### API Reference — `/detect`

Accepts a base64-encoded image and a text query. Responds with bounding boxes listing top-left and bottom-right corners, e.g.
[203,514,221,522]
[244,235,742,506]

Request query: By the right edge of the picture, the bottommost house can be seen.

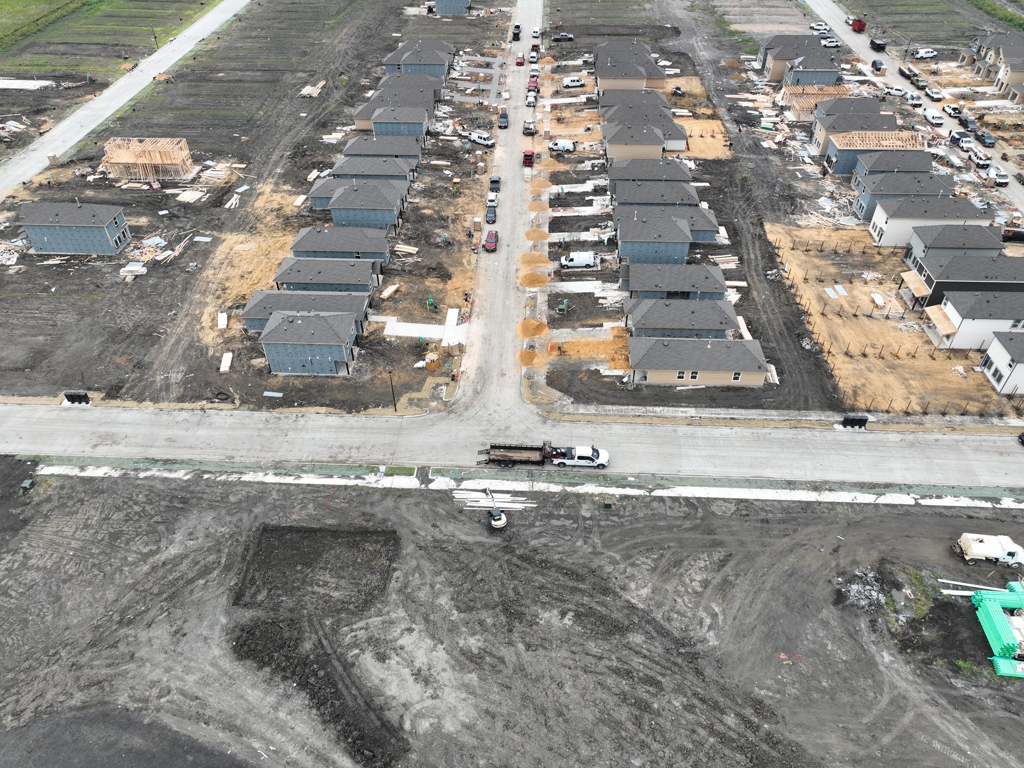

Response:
[977,331,1024,396]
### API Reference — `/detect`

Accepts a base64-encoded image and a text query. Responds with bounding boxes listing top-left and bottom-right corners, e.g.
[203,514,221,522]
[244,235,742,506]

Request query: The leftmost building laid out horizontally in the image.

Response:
[10,200,133,257]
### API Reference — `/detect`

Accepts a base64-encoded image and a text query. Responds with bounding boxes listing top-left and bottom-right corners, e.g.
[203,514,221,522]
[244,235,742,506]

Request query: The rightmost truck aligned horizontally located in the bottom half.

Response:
[941,531,1024,568]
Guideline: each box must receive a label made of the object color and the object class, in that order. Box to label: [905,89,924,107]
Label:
white vehicle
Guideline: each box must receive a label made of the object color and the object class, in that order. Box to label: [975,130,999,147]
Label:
gray vehicle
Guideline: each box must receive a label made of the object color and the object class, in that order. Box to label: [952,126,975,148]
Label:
white truck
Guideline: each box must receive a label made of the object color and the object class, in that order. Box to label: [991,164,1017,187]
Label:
white vehicle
